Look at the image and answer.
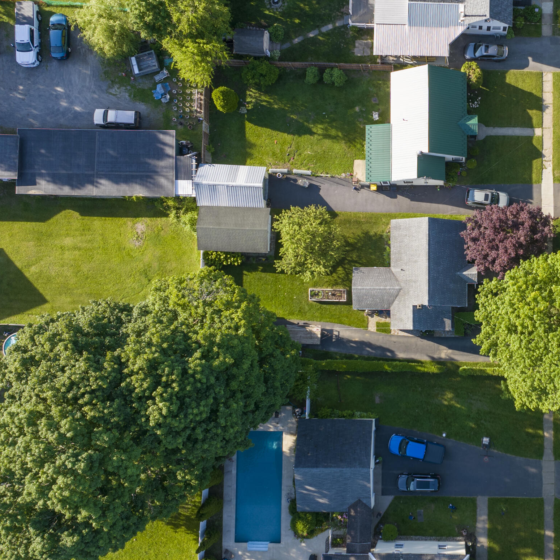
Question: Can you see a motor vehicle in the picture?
Yes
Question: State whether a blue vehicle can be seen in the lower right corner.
Yes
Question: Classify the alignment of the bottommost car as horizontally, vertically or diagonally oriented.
horizontally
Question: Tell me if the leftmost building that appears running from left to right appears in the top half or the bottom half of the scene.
top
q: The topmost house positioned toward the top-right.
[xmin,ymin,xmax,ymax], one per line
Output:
[372,0,512,64]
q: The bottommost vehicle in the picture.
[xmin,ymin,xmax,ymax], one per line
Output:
[397,472,441,494]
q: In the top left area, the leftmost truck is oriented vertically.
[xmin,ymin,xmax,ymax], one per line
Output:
[15,3,43,67]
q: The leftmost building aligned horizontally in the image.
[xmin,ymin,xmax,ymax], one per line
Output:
[16,128,185,199]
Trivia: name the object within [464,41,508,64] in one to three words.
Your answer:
car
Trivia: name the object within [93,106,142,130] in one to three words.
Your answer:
car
